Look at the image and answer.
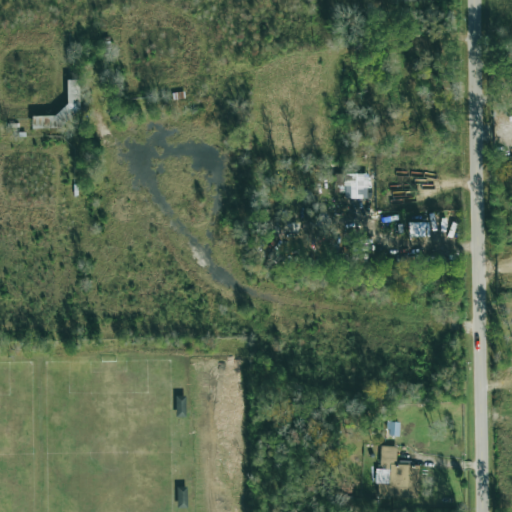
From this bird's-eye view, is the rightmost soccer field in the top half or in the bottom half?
bottom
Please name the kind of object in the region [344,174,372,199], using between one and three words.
house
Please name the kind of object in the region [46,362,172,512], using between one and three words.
soccer field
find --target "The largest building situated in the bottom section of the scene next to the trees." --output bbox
[376,446,410,490]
